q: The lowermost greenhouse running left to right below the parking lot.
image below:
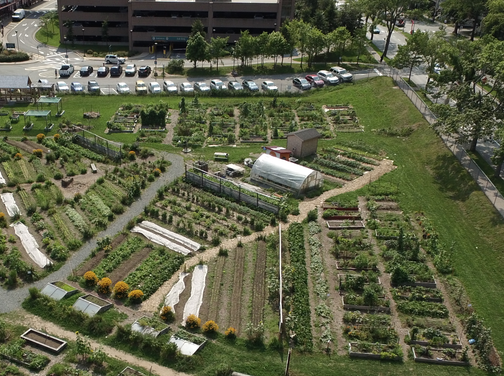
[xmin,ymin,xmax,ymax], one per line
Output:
[249,156,327,200]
